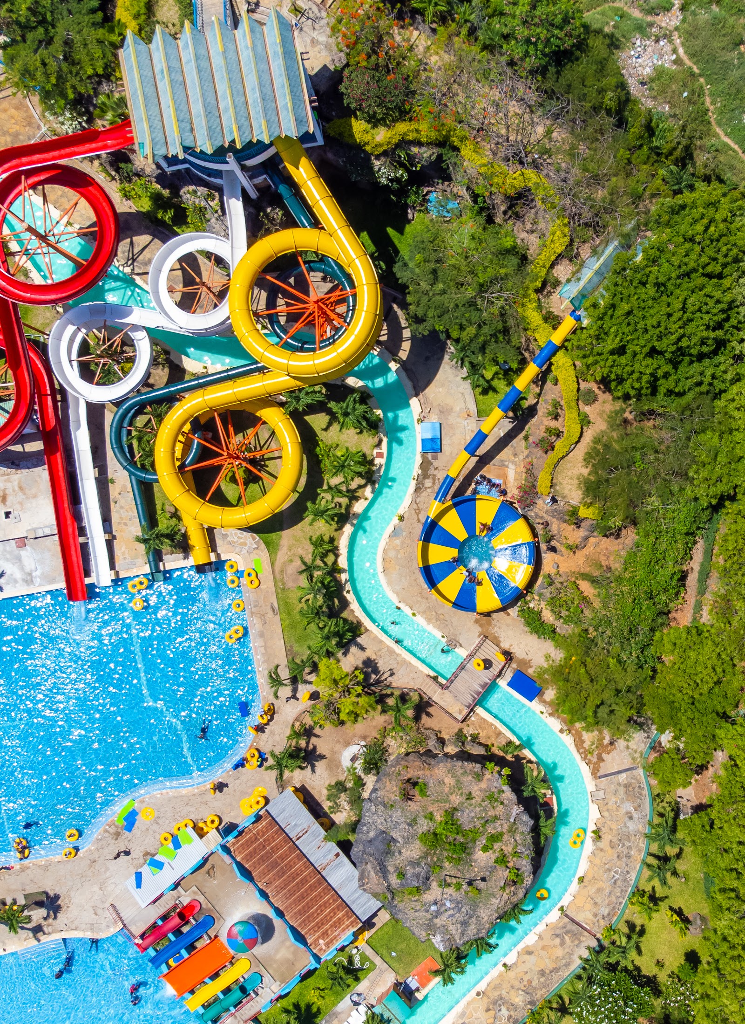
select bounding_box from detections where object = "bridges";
[416,636,512,725]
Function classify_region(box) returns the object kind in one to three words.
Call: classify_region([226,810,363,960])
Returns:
building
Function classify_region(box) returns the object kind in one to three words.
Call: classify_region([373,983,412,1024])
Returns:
shed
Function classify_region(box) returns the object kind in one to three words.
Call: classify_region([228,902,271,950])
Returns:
fountain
